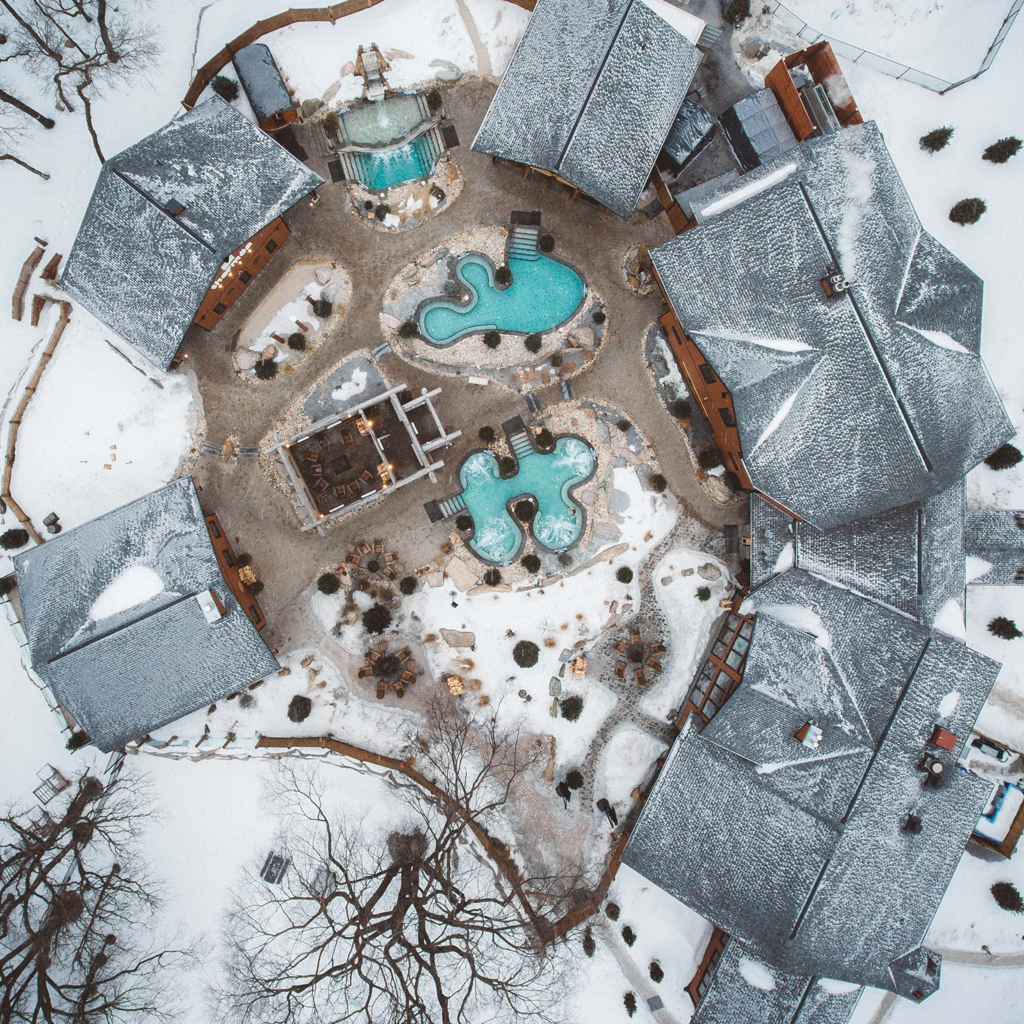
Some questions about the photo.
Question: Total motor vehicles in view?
0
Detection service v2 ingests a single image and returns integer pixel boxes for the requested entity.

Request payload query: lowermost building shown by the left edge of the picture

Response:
[13,474,282,753]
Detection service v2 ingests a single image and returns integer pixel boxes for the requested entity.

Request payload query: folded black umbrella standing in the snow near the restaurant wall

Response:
[597,800,618,828]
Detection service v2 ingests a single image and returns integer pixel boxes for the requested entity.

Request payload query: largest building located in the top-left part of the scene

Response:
[58,94,325,371]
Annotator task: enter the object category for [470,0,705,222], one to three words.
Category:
barn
